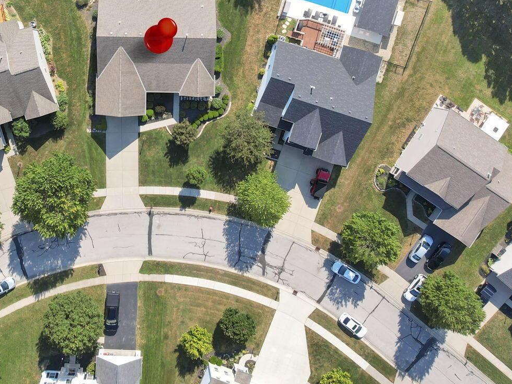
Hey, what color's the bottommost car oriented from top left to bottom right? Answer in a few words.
white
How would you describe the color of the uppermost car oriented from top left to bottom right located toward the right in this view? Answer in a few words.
blue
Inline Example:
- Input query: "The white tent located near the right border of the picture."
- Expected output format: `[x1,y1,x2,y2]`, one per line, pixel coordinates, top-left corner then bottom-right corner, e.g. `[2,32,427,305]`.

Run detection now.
[476,110,509,142]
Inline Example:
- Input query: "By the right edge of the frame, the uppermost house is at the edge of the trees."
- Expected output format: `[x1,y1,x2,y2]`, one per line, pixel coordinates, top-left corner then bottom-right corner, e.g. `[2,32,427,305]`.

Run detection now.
[394,109,512,248]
